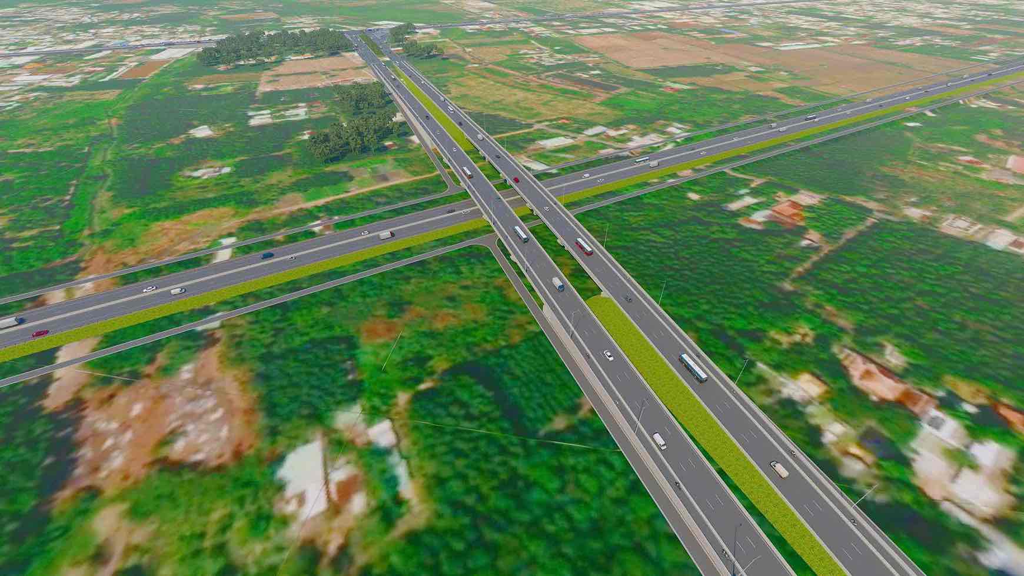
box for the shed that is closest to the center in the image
[537,137,574,150]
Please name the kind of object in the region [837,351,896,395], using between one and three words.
building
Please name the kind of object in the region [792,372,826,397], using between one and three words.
house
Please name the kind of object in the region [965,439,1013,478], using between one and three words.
house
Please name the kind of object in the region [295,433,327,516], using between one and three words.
shed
